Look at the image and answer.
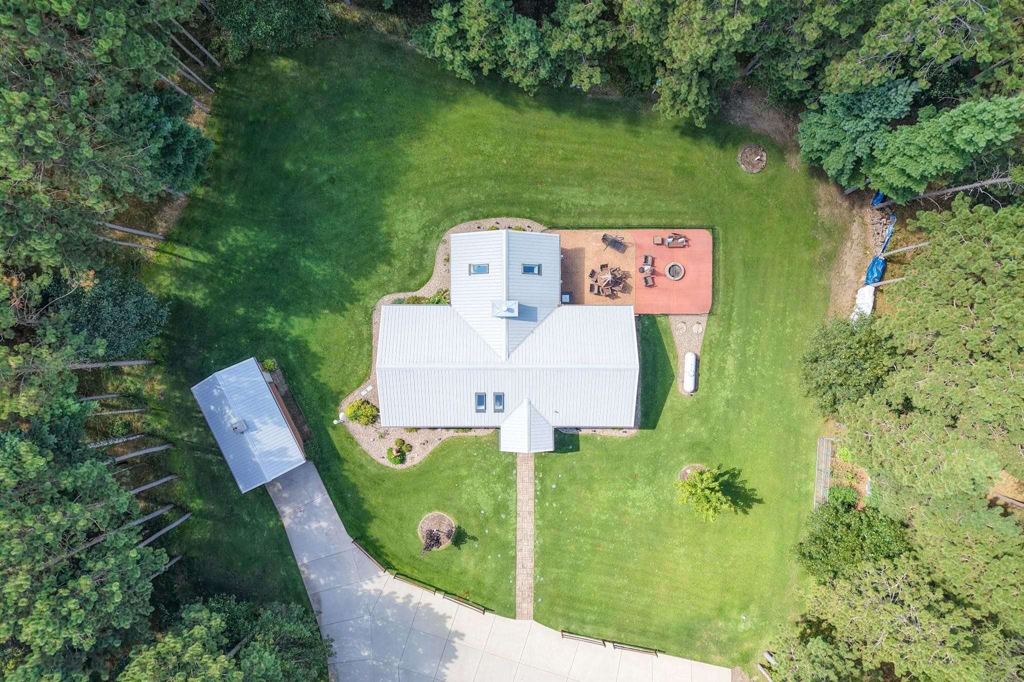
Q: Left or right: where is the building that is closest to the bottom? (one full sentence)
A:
It is on the left.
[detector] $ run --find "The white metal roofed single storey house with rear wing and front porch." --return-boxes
[375,229,640,454]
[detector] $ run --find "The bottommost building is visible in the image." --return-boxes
[190,357,308,494]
